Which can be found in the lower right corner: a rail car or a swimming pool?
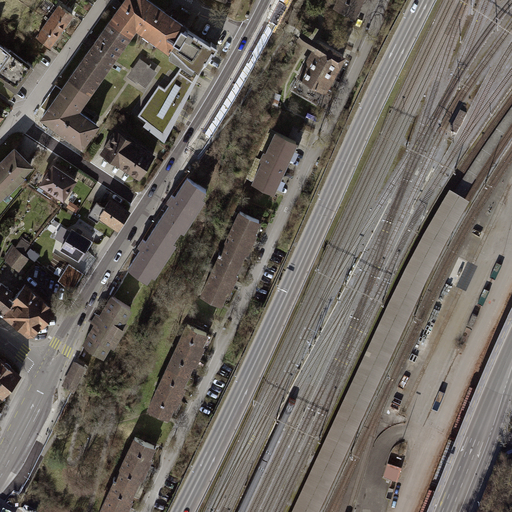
rail car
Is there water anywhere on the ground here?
No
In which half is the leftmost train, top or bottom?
bottom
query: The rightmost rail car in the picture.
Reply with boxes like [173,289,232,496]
[451,386,474,434]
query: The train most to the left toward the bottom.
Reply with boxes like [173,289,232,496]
[238,384,298,512]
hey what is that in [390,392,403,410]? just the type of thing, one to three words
vehicle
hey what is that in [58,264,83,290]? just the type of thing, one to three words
building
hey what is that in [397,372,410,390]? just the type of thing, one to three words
vehicle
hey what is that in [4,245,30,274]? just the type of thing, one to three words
house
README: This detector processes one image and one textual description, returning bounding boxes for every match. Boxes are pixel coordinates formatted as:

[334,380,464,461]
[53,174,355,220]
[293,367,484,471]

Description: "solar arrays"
[68,232,91,252]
